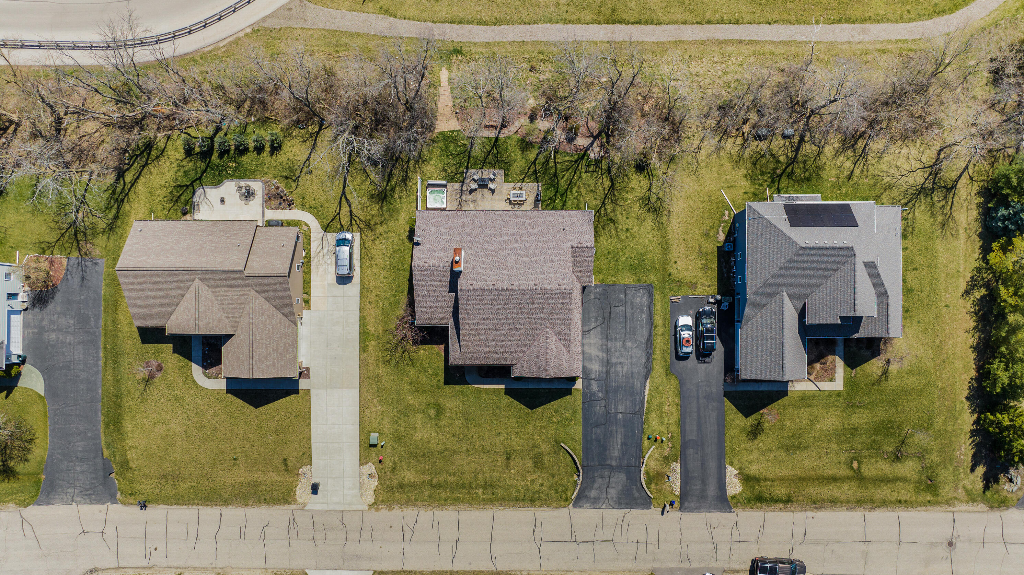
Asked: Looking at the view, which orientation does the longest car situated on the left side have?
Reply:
vertically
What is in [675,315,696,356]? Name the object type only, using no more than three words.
car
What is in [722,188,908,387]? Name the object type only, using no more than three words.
house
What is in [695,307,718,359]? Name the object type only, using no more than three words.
car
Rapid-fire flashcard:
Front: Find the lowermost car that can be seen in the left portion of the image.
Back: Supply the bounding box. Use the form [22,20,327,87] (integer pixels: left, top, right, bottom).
[332,231,354,277]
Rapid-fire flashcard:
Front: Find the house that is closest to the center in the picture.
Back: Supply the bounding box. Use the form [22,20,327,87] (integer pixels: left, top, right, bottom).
[411,204,596,381]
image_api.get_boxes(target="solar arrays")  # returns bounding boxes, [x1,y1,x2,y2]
[784,204,858,227]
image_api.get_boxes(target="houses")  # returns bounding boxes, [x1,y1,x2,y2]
[411,204,596,381]
[115,213,306,381]
[0,251,31,370]
[722,188,908,387]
